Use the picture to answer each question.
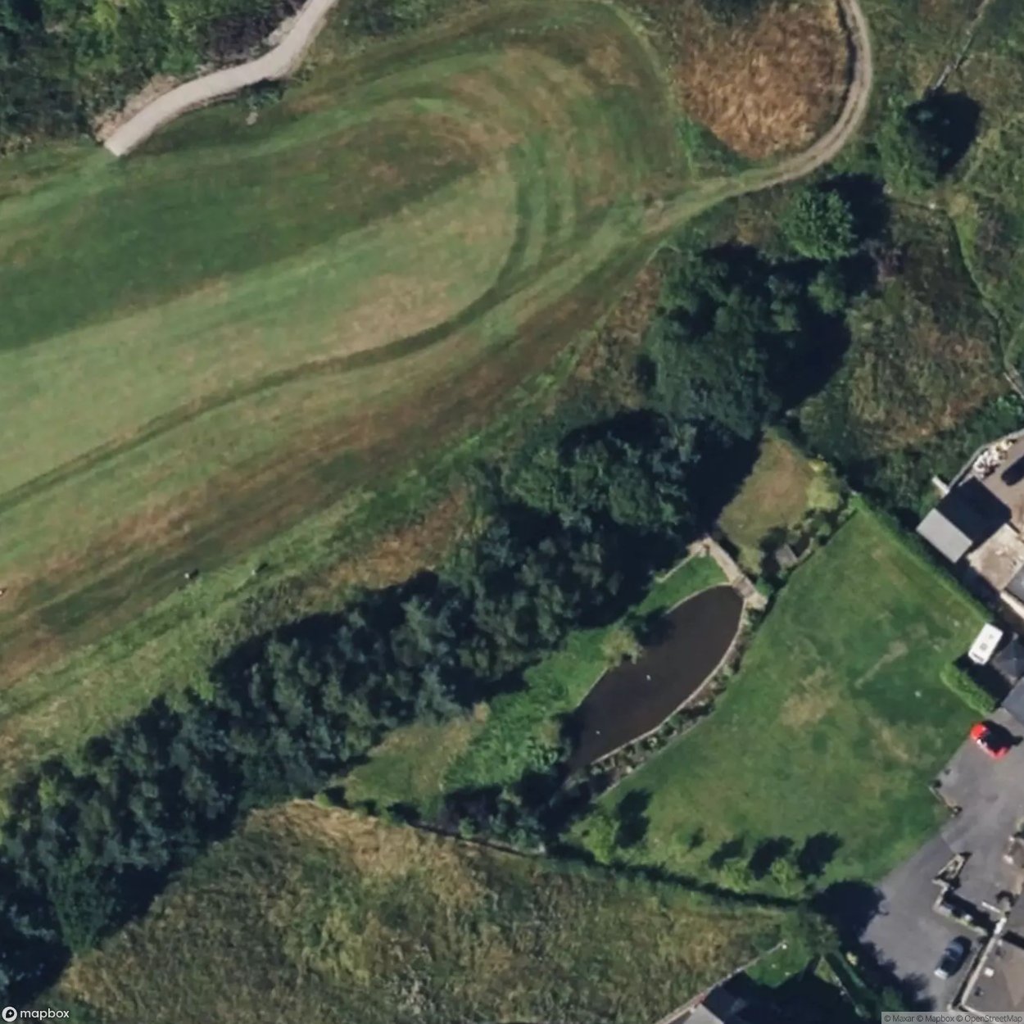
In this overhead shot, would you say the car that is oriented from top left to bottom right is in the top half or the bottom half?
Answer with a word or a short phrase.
bottom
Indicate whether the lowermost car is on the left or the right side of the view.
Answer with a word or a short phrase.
right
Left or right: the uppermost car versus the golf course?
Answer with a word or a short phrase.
right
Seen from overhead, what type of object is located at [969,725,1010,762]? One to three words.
car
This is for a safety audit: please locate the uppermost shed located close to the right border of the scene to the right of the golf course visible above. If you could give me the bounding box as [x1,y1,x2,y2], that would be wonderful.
[918,508,976,563]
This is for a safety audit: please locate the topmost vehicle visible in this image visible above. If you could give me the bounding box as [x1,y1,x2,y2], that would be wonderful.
[1002,451,1024,482]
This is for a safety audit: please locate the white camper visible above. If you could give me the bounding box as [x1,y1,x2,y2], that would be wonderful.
[970,624,1004,665]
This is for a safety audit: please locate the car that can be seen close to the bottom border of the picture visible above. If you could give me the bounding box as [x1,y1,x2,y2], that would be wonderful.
[936,935,970,980]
